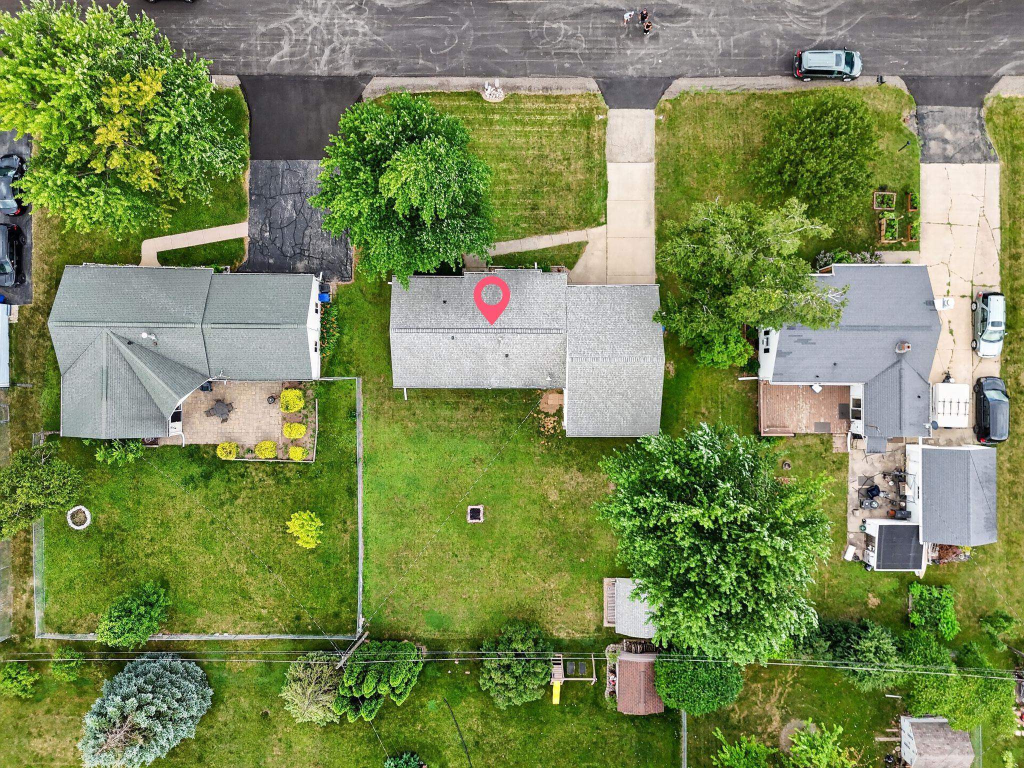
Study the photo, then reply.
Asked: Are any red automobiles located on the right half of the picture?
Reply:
No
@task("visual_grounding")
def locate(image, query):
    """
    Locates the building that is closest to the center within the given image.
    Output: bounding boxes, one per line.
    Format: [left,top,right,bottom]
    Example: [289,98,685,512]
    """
[388,262,664,438]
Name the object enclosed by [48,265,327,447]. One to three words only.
house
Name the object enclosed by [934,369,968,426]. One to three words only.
trailer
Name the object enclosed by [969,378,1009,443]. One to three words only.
car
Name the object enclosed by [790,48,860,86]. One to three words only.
car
